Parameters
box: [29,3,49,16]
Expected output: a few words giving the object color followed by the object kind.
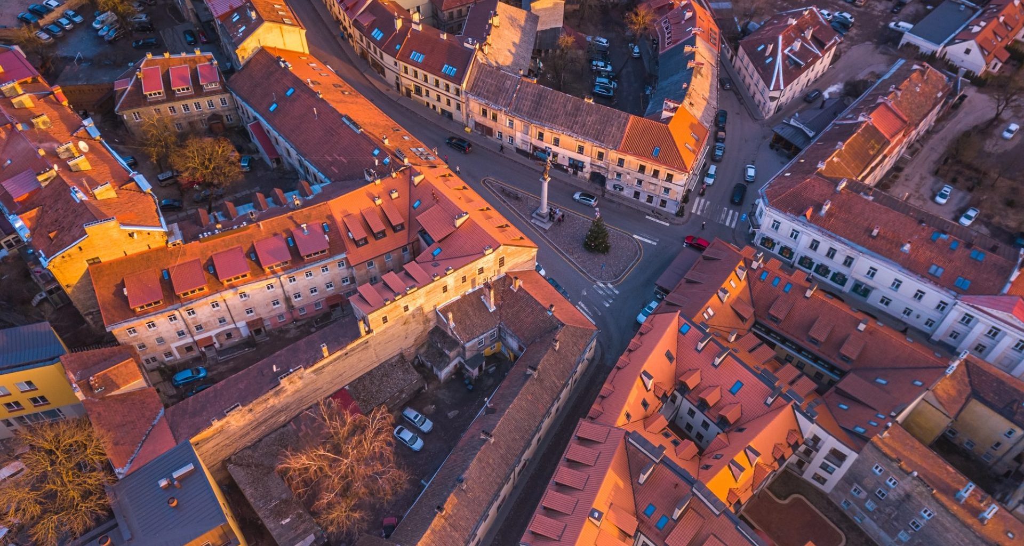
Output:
blue vehicle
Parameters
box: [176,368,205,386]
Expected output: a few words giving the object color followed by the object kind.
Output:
blue car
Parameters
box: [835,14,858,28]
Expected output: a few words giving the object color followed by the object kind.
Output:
blue car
